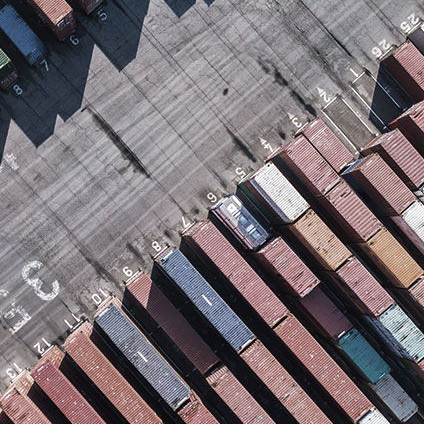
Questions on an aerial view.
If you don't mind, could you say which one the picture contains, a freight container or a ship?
freight container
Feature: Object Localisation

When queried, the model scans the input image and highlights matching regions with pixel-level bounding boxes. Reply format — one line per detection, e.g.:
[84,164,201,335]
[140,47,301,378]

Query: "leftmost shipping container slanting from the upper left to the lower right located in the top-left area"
[0,4,46,65]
